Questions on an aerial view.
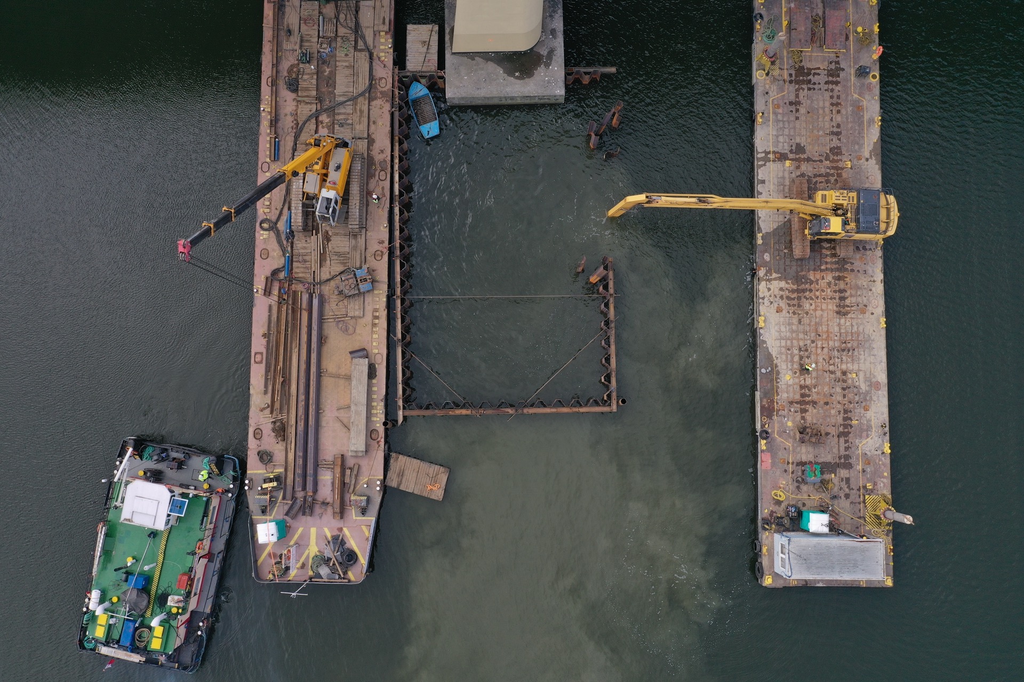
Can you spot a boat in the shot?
Yes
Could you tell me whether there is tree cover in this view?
No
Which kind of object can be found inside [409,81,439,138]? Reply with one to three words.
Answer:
boat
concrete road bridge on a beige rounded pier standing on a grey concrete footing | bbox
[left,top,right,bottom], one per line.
[445,0,564,104]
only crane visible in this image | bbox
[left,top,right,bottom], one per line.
[176,133,366,312]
